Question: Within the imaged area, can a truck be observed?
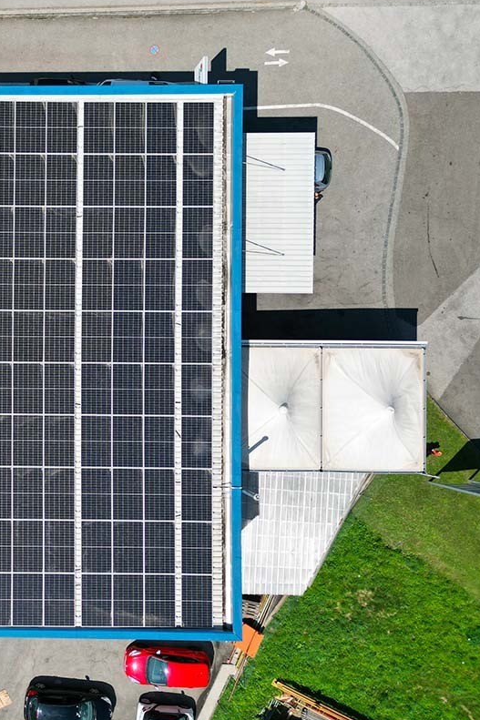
No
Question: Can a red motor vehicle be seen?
Yes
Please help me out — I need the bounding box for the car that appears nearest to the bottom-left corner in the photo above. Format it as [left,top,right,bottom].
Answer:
[25,683,114,720]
